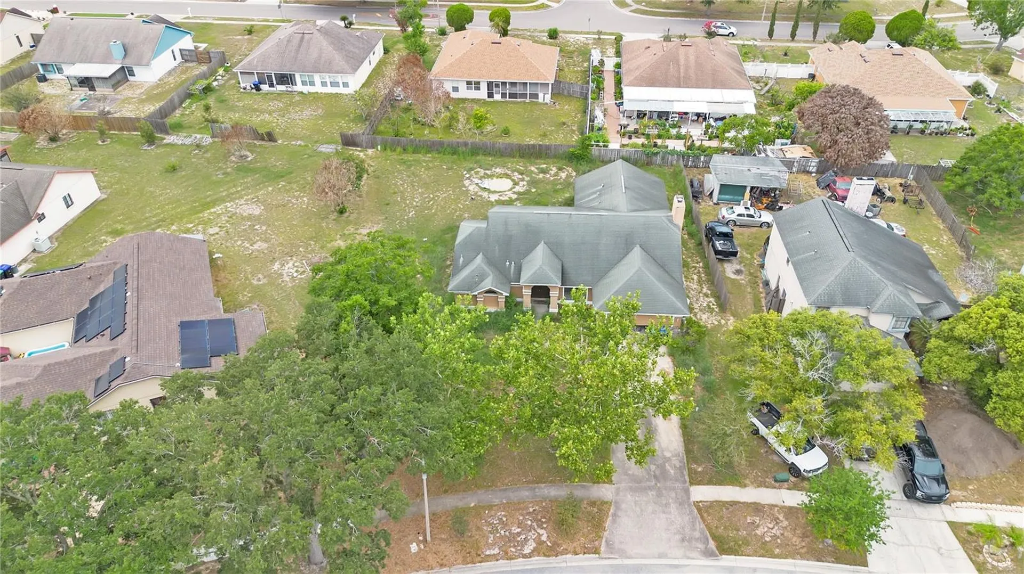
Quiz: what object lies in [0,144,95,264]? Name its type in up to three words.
house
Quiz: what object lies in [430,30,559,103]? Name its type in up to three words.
house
